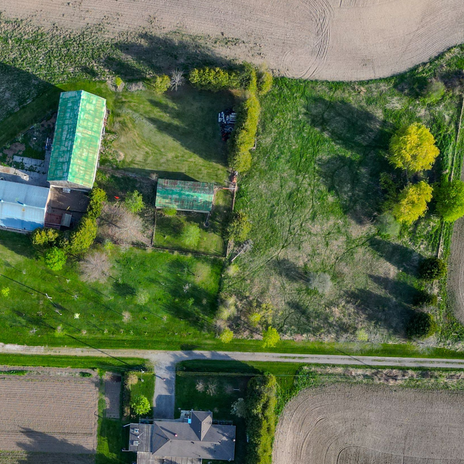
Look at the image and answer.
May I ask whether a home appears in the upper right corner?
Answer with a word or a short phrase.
No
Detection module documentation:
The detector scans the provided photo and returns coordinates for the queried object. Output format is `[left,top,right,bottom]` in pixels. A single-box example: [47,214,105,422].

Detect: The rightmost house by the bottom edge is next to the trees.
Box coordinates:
[152,411,236,461]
